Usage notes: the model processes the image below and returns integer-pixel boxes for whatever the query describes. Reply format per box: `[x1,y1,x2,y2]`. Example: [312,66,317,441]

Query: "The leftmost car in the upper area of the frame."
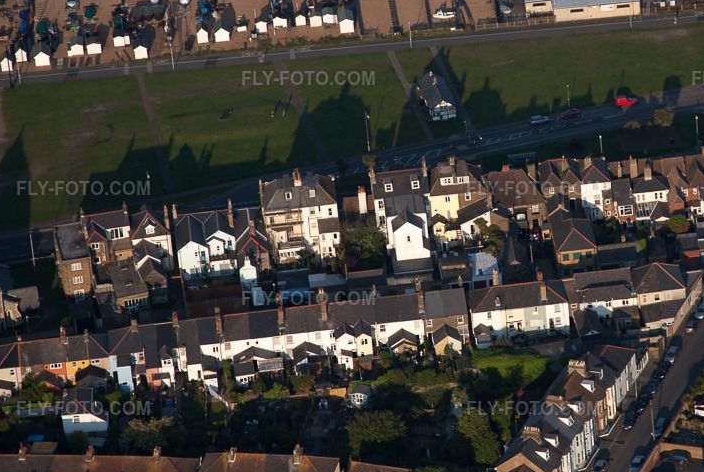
[528,114,551,126]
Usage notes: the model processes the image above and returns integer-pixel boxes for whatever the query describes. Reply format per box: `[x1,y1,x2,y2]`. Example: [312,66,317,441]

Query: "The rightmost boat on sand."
[433,4,456,19]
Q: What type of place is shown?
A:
residential area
